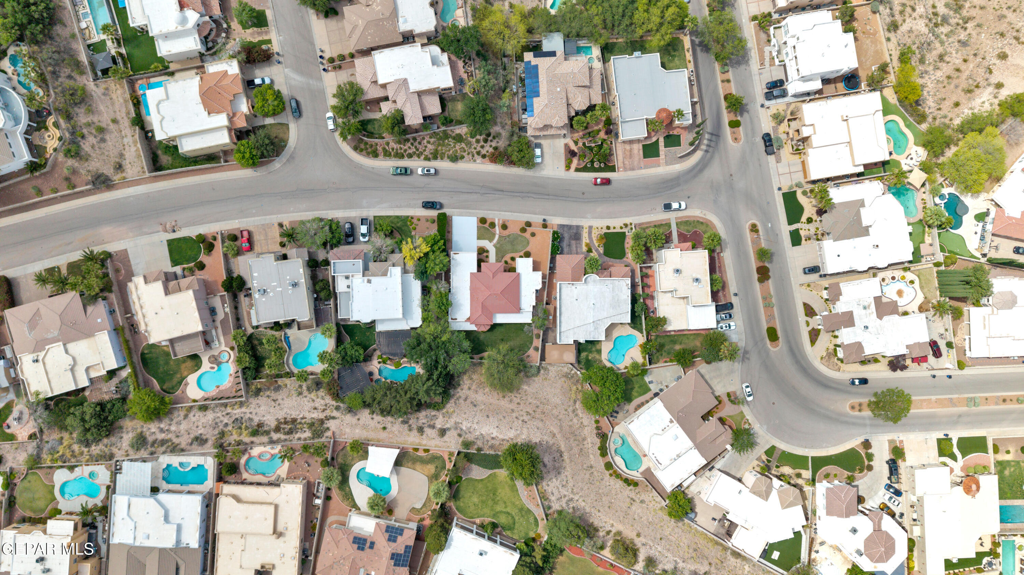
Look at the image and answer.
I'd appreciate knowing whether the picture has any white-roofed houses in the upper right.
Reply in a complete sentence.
Yes, a white-roofed house can be seen in the upper right.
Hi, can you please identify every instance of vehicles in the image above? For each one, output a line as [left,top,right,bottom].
[849,378,868,386]
[239,229,251,252]
[929,338,945,361]
[857,496,867,505]
[326,112,337,131]
[423,201,441,209]
[1010,246,1024,255]
[763,134,775,157]
[879,502,896,519]
[715,302,735,313]
[290,98,301,118]
[392,167,410,175]
[360,219,369,241]
[716,312,734,321]
[884,483,903,498]
[592,178,610,185]
[662,202,685,210]
[764,88,784,100]
[418,167,436,175]
[765,79,781,89]
[883,493,901,508]
[742,383,753,401]
[534,141,543,164]
[888,460,899,483]
[802,265,817,274]
[247,77,270,87]
[717,322,736,330]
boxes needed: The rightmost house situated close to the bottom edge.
[900,460,1000,575]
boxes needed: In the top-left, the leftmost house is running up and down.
[0,84,43,174]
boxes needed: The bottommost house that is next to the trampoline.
[795,91,890,183]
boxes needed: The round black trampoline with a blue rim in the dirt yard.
[843,73,860,90]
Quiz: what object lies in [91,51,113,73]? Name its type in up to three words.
gazebo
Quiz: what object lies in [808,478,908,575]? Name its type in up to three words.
house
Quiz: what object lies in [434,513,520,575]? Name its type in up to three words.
house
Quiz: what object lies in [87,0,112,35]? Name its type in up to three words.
swimming pool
